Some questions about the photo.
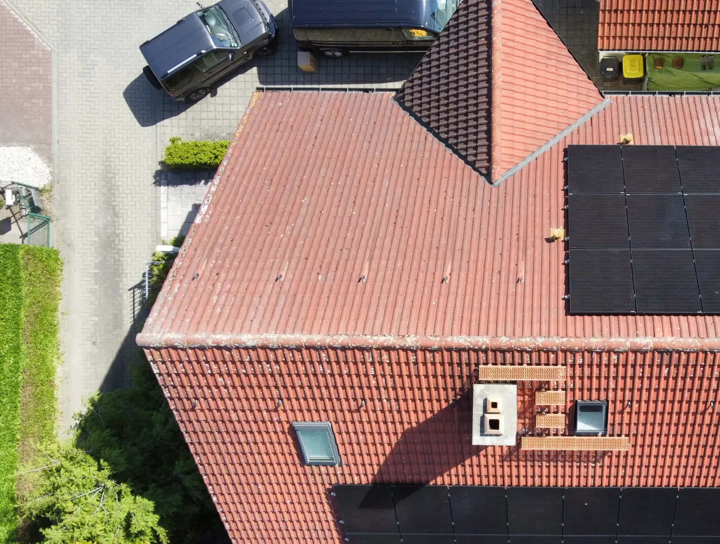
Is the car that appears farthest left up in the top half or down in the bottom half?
top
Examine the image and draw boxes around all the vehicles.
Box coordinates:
[136,0,284,105]
[288,0,456,57]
